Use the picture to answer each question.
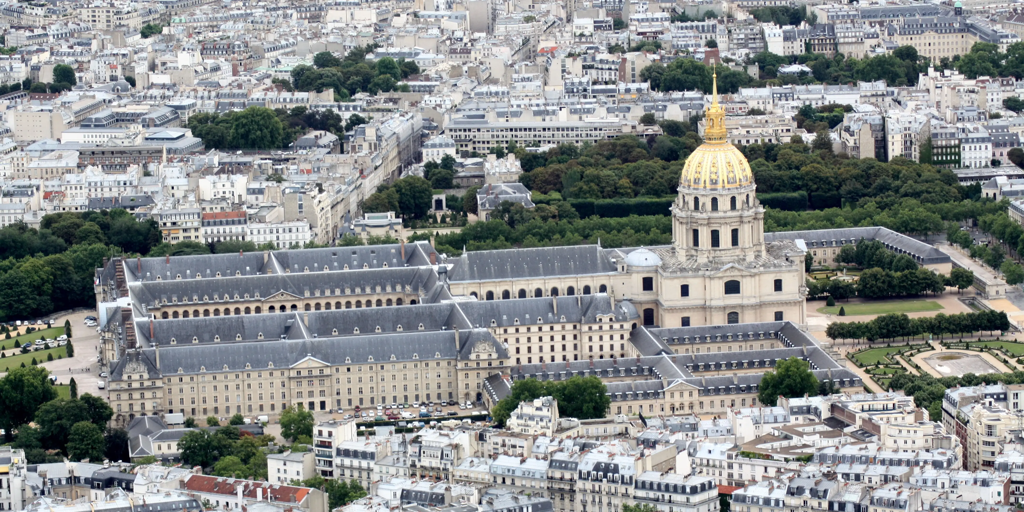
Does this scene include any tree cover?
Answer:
Yes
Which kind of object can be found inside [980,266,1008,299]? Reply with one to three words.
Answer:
building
